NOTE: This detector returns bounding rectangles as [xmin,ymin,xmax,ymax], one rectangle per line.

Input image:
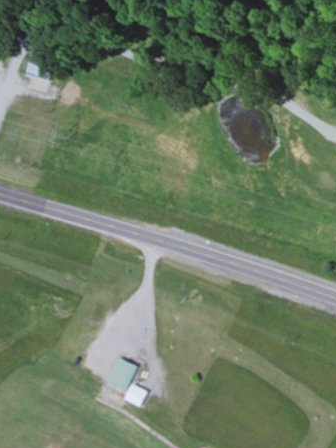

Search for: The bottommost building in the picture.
[125,384,150,408]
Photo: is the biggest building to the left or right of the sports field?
left of it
